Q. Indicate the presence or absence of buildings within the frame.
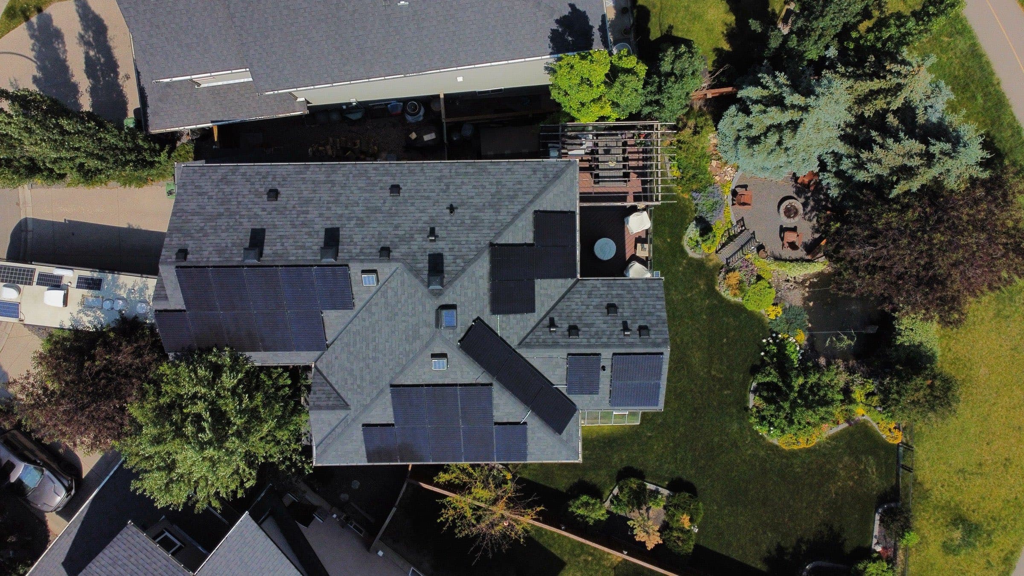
Yes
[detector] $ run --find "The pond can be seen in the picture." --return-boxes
[805,273,897,359]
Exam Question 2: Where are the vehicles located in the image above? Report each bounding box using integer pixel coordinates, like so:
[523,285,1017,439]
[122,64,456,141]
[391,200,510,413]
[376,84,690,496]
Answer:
[0,256,160,339]
[0,416,86,519]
